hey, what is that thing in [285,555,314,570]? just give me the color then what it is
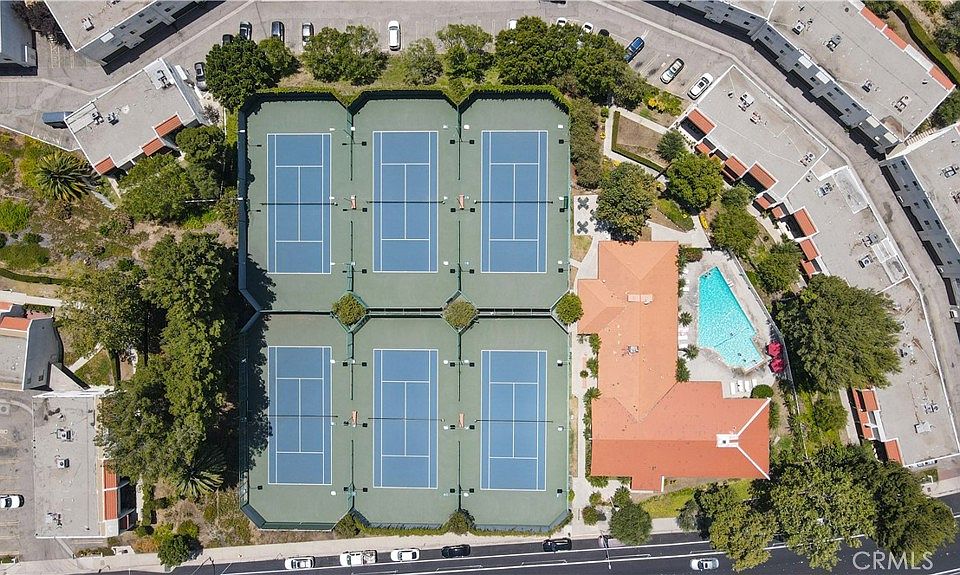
white car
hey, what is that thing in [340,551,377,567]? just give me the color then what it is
white vehicle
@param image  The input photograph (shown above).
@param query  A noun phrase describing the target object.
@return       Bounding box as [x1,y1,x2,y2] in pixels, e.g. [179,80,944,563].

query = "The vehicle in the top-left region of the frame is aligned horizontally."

[40,111,70,124]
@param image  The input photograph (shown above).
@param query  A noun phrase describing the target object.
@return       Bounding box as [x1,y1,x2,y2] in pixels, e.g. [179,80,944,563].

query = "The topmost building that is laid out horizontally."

[44,0,205,67]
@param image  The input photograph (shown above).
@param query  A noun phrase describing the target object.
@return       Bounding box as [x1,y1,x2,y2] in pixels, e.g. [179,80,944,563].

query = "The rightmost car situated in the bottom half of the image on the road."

[690,556,718,571]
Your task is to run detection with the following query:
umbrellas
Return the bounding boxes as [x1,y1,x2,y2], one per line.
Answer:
[769,356,785,372]
[766,340,782,356]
